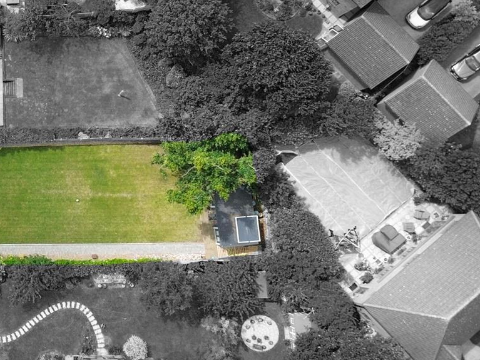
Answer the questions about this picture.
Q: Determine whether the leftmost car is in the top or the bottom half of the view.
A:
top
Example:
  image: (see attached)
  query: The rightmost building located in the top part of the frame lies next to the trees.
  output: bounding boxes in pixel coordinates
[374,60,480,148]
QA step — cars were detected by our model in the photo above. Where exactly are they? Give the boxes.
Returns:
[449,46,480,79]
[407,0,452,28]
